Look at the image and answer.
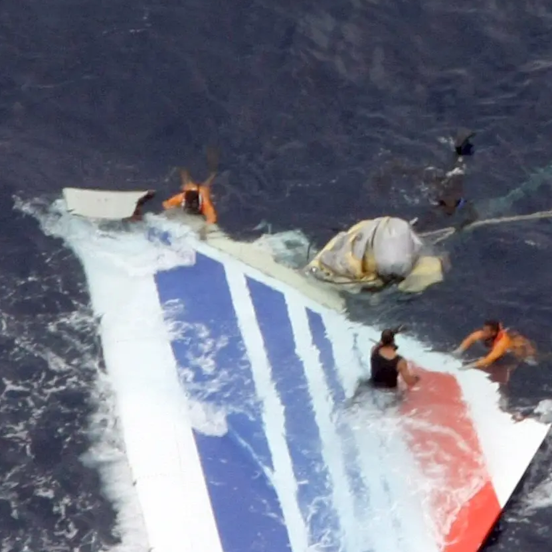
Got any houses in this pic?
No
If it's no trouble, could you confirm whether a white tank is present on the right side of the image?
No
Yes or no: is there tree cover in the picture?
No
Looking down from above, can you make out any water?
Yes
